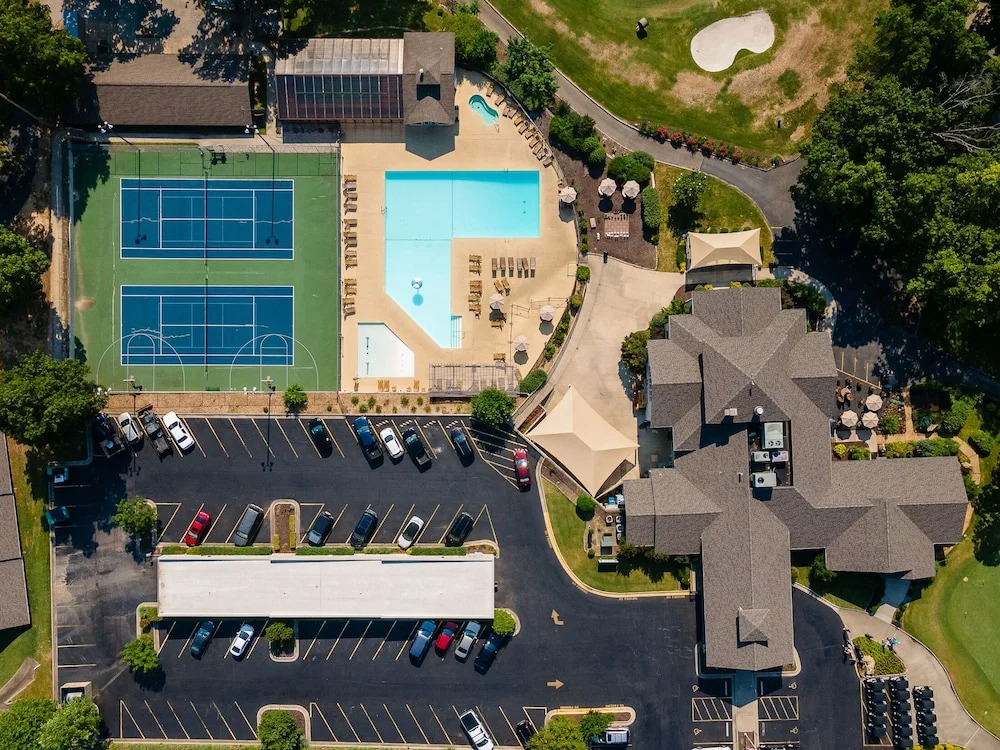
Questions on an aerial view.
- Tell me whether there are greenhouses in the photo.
Yes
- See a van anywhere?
Yes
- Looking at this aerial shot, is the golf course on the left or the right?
right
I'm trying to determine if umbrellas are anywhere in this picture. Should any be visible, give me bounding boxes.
[489,294,504,309]
[865,395,882,410]
[560,187,576,203]
[840,410,856,427]
[861,412,878,428]
[540,307,555,321]
[622,181,640,197]
[514,336,528,351]
[599,179,616,196]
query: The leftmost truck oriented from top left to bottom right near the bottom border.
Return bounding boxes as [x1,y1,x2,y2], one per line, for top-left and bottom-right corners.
[458,709,493,750]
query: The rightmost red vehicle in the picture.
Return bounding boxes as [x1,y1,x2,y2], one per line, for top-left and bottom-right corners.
[512,448,530,487]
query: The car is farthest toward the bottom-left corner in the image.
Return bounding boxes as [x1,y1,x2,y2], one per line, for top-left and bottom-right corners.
[188,620,216,657]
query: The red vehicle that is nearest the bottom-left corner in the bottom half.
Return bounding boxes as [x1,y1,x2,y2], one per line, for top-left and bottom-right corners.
[184,509,212,545]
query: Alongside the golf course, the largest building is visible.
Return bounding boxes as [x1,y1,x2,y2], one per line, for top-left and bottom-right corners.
[624,286,967,669]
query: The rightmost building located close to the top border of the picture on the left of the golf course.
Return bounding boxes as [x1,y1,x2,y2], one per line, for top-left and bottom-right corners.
[402,32,457,127]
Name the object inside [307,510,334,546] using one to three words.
car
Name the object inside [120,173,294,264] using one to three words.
tennis court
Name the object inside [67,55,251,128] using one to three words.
shed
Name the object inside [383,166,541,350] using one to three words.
swimming pool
